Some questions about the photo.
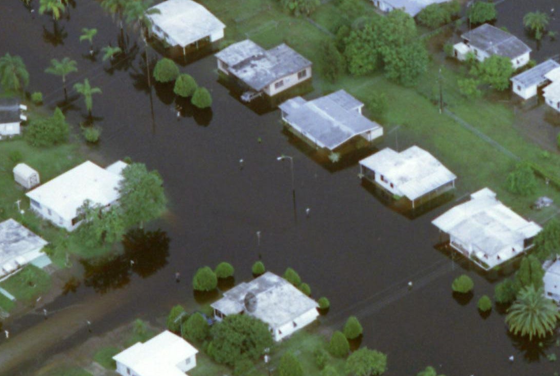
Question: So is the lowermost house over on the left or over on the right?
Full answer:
You can find the lowermost house on the left side of the picture.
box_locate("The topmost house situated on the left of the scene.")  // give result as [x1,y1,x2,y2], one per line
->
[150,0,227,59]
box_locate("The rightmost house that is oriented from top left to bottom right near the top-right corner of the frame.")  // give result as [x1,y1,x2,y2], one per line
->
[467,21,530,72]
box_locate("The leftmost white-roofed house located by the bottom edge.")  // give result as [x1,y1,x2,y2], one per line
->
[111,328,197,376]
